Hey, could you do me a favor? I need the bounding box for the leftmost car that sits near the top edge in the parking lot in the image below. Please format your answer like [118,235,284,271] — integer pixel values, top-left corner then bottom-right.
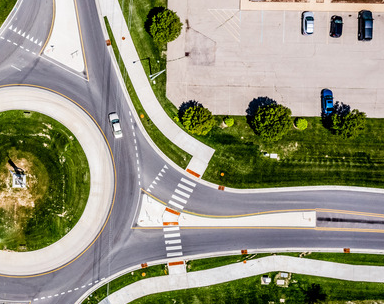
[299,11,315,37]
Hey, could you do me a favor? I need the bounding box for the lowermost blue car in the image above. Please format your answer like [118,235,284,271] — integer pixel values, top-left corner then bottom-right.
[319,88,335,116]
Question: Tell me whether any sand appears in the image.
No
